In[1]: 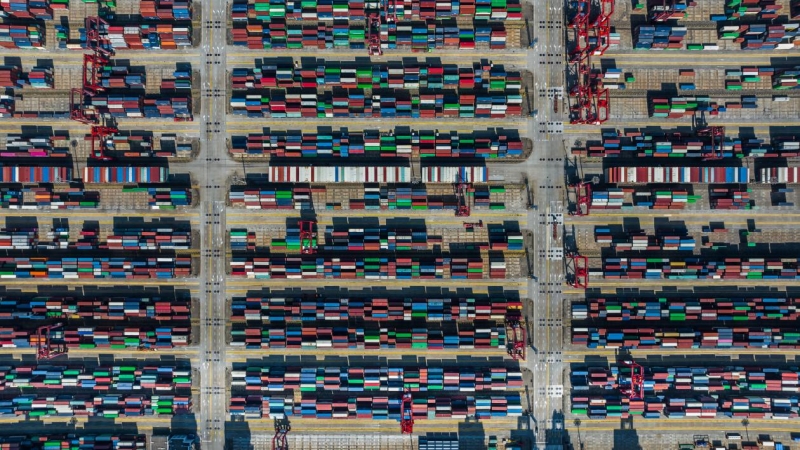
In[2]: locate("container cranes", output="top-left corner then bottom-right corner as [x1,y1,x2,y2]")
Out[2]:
[299,220,319,255]
[566,183,590,216]
[588,14,611,55]
[37,323,70,361]
[70,86,100,124]
[502,323,522,361]
[567,14,591,55]
[617,359,644,398]
[648,0,676,23]
[585,86,609,124]
[399,392,415,433]
[567,52,591,91]
[693,124,723,160]
[383,0,398,23]
[271,428,291,450]
[86,14,116,55]
[83,52,112,91]
[367,14,384,55]
[565,255,588,289]
[91,124,120,160]
[566,0,590,23]
[453,183,471,216]
[568,86,591,124]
